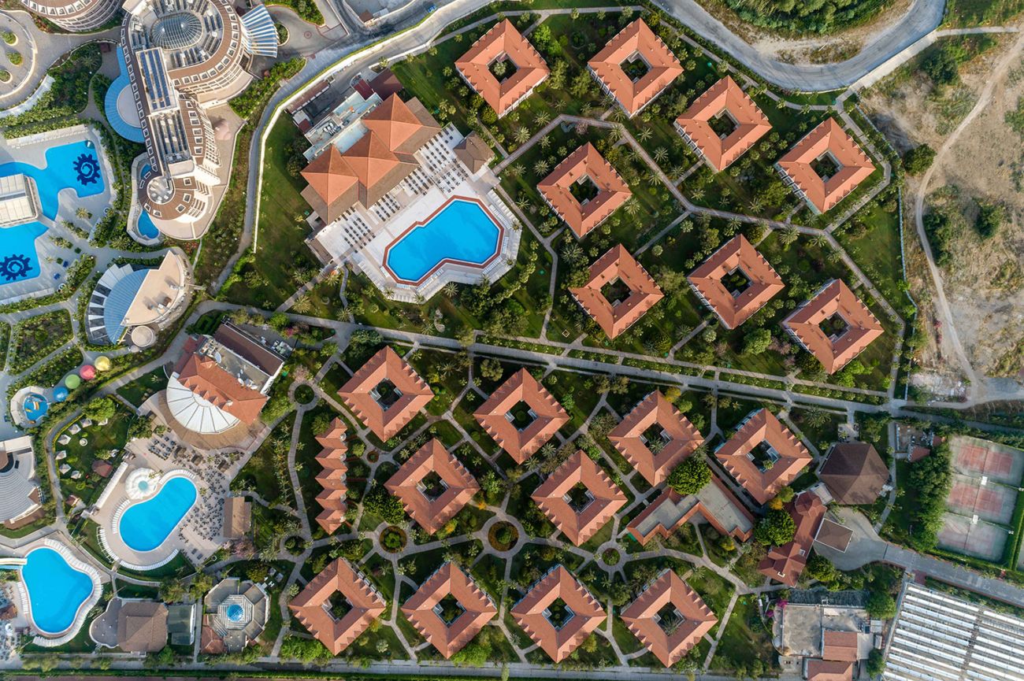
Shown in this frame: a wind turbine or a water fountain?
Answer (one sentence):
I can see a water fountain in this picture.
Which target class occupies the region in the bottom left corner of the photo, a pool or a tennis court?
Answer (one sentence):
What appears in the bottom left corner of the photo is a pool.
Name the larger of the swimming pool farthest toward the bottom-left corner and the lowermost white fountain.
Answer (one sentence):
It is the swimming pool that is larger, not the fountain.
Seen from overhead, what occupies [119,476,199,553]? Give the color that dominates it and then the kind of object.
blue swimming pool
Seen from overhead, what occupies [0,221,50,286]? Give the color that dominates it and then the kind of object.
blue swimming pool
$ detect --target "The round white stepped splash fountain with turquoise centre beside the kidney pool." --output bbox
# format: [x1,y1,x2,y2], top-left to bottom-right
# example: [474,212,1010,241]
[128,472,158,500]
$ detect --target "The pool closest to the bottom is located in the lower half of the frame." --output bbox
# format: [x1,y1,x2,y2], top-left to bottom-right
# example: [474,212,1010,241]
[21,547,95,634]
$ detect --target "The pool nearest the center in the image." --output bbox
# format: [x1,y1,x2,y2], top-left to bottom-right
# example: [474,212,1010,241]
[384,196,504,285]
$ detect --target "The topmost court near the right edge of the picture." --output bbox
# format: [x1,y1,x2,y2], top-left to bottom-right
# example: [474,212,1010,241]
[946,437,1024,489]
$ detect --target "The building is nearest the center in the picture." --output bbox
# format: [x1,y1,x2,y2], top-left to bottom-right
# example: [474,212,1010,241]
[474,368,569,464]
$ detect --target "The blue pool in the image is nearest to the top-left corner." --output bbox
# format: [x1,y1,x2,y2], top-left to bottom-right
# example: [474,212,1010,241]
[0,138,106,222]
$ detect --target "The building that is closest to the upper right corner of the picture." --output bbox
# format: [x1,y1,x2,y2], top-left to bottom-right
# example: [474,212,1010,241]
[775,118,874,214]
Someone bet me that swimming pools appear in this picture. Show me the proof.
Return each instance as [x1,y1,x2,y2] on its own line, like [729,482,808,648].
[22,392,50,421]
[0,221,50,286]
[21,547,95,634]
[137,208,160,240]
[384,196,504,285]
[119,476,199,553]
[0,138,106,222]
